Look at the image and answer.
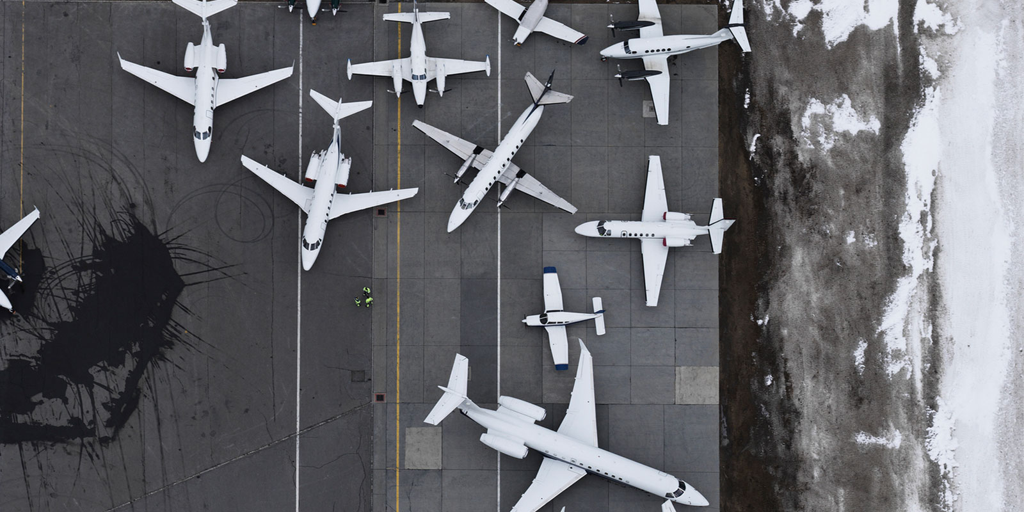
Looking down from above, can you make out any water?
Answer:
No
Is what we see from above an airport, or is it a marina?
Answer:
airport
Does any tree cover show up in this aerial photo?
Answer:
No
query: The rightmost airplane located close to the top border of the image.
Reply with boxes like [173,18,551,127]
[600,0,752,125]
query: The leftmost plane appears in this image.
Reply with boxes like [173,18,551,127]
[0,199,35,308]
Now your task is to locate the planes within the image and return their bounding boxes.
[423,339,709,512]
[660,501,676,512]
[411,70,577,233]
[487,0,590,49]
[117,0,294,164]
[600,0,752,125]
[575,156,737,305]
[243,88,415,271]
[347,0,491,109]
[0,199,35,308]
[523,264,606,372]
